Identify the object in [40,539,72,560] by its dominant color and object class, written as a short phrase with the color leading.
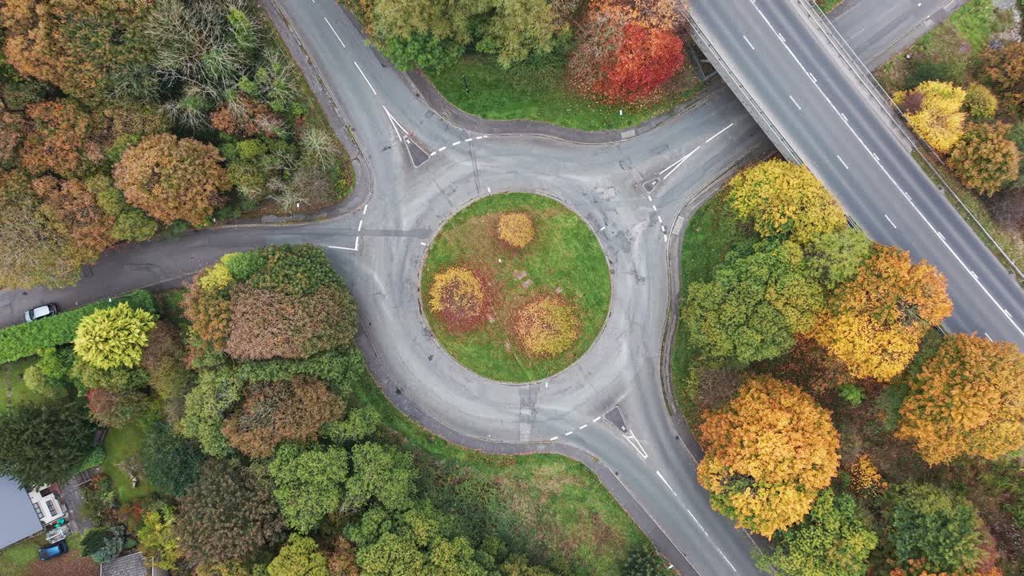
blue car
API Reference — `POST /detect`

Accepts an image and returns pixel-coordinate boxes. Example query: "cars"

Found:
[27,302,61,319]
[40,539,72,560]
